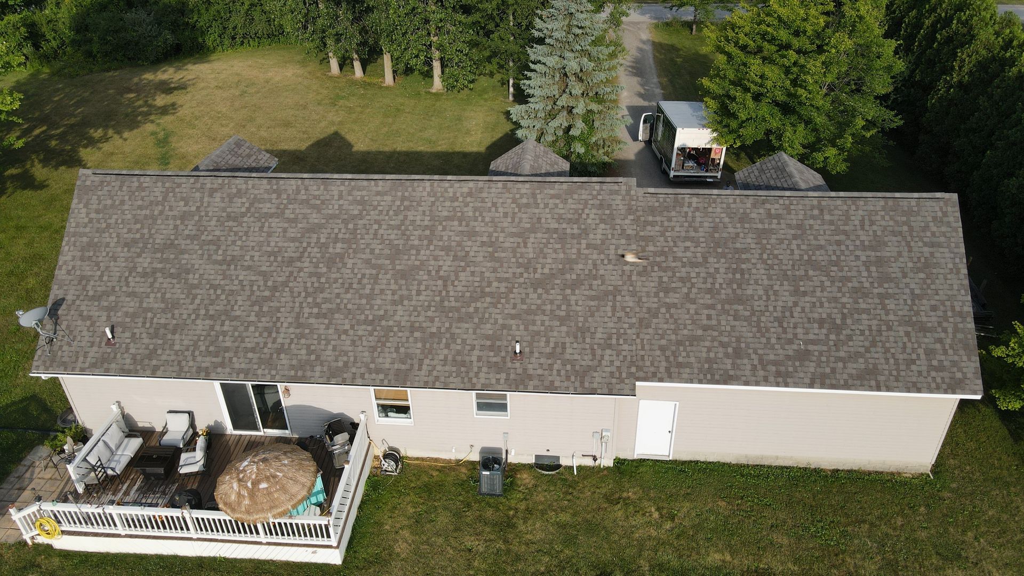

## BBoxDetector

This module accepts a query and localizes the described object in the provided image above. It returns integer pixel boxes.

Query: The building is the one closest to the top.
[28,135,983,478]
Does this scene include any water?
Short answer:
No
